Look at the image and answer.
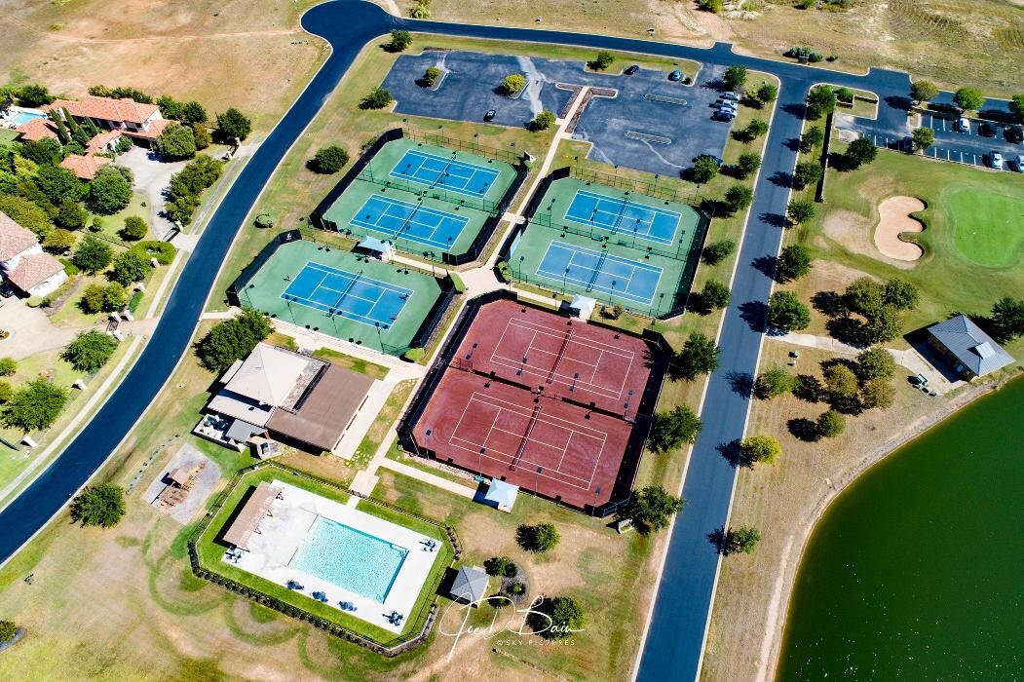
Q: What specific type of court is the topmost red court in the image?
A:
tennis court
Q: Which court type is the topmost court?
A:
tennis court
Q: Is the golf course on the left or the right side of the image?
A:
right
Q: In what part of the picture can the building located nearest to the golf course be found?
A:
right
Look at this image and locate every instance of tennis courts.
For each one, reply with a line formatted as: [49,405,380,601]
[449,300,668,425]
[415,366,650,508]
[240,240,448,357]
[530,178,711,263]
[327,179,496,261]
[508,221,698,319]
[358,138,523,213]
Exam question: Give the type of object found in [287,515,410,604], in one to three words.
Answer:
swimming pool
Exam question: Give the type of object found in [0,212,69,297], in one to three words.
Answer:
house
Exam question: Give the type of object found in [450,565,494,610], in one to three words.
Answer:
gazebo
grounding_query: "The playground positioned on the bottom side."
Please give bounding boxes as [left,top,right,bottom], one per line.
[145,455,203,520]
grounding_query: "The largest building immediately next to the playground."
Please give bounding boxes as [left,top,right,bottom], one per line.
[209,342,376,456]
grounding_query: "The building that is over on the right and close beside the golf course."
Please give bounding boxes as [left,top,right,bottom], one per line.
[922,315,1017,385]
